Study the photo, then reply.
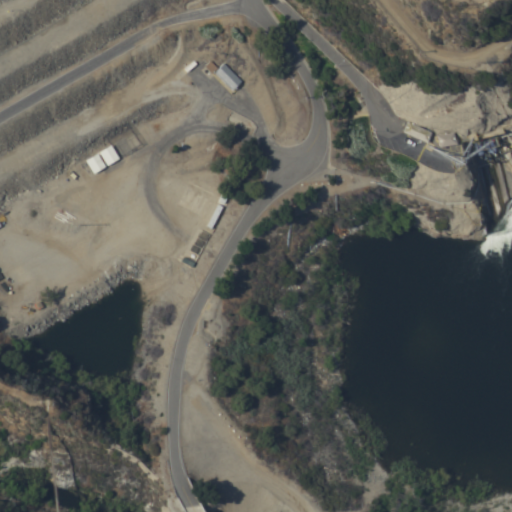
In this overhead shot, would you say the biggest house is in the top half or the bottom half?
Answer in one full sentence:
Seen from above, the biggest house lies in the top half of the view.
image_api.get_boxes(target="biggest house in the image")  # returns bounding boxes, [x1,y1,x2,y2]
[214,62,244,94]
